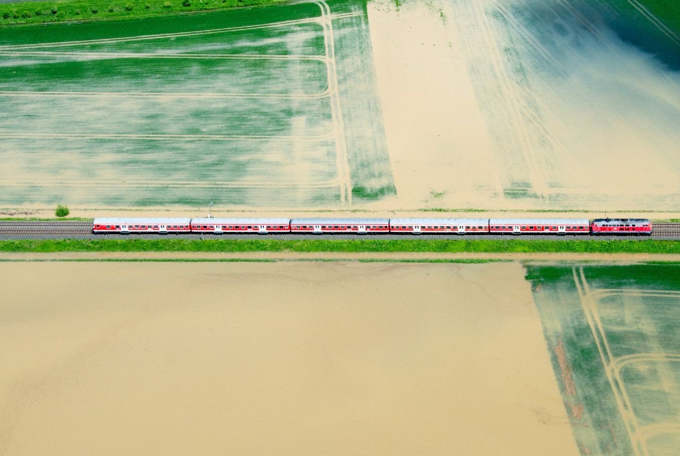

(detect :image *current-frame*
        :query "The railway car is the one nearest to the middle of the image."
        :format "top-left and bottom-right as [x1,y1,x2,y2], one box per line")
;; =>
[289,218,389,235]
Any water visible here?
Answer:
Yes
